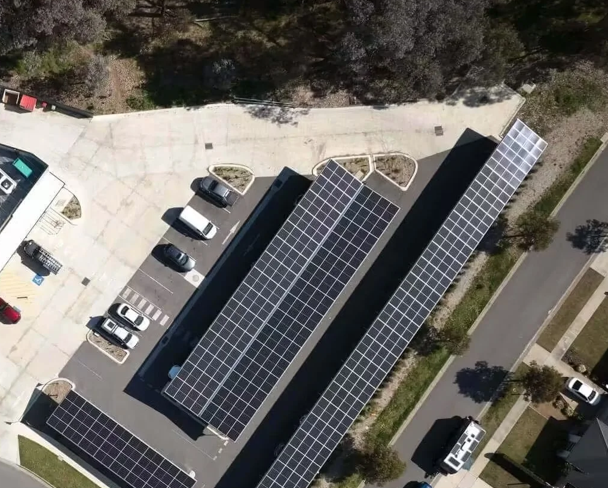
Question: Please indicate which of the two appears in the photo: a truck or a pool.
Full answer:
I can see a truck in this picture.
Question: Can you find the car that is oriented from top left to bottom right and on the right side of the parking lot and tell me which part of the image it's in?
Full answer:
Look in the bottom right portion of the view to spot the car that is oriented from top left to bottom right and on the right side of the parking lot.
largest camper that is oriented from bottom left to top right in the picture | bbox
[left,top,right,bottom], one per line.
[429,417,483,475]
